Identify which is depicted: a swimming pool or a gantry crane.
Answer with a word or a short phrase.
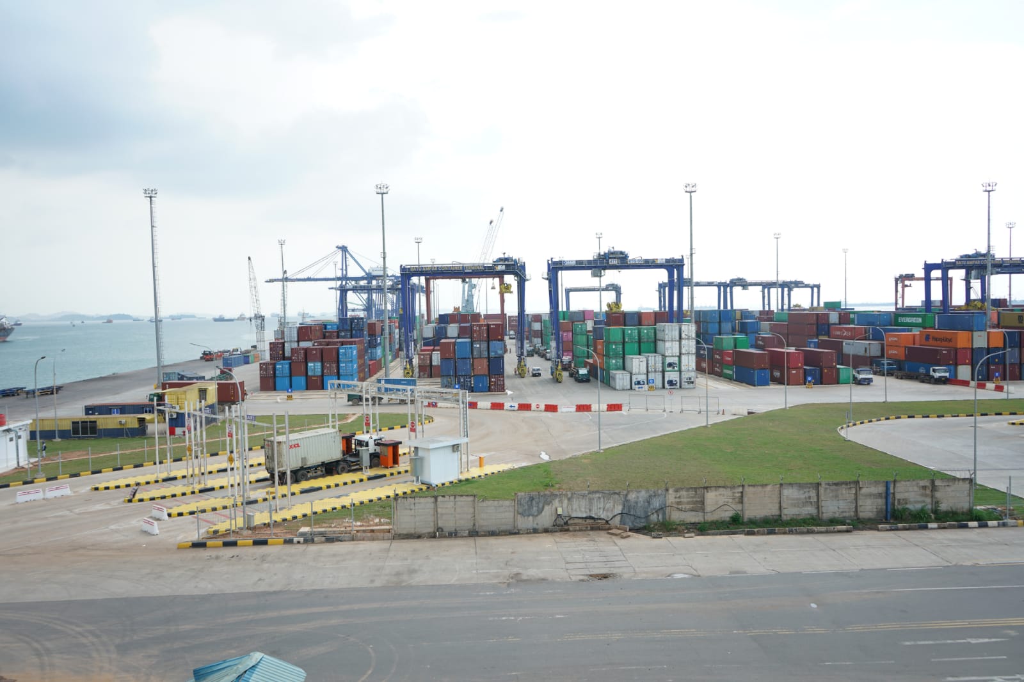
gantry crane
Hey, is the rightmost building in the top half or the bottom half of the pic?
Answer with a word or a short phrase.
bottom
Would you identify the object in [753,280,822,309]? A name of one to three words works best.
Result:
container crane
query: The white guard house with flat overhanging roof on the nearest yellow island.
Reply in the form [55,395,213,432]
[397,430,468,485]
